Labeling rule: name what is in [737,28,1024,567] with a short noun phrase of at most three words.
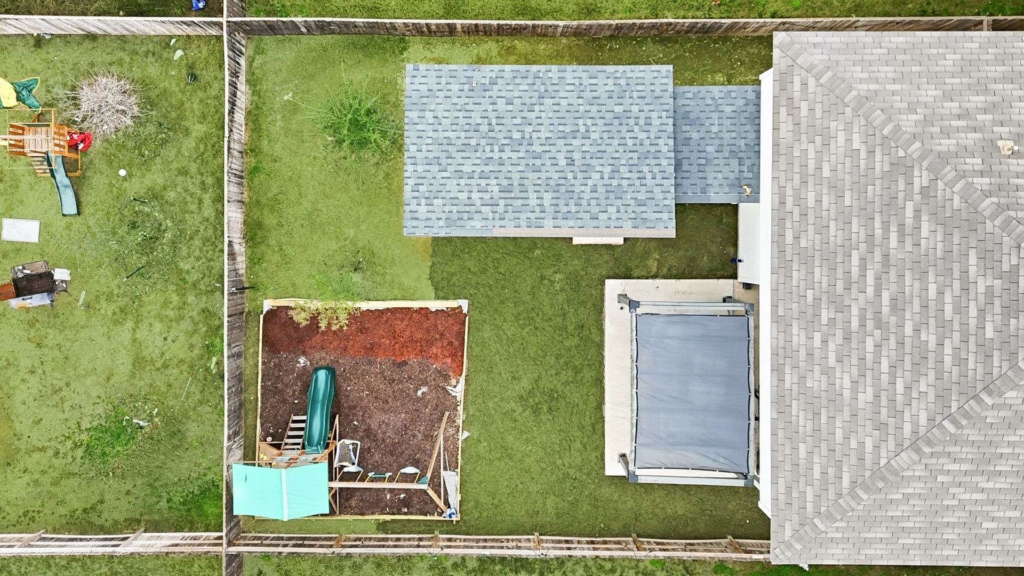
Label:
house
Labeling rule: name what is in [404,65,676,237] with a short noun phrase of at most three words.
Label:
shed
